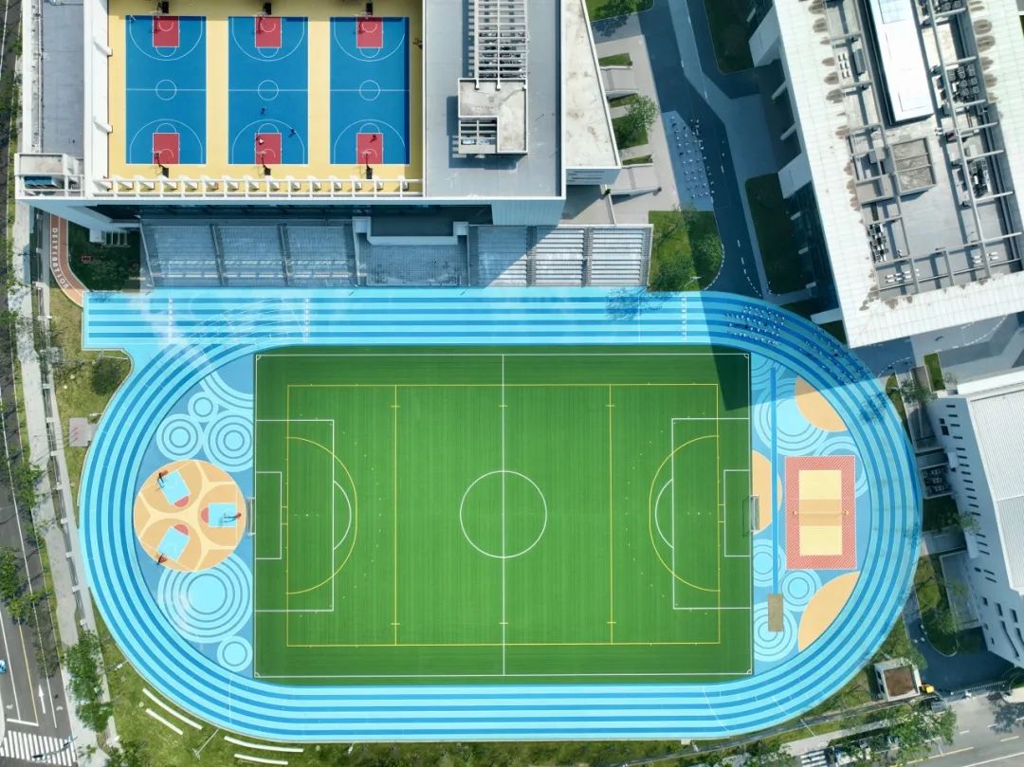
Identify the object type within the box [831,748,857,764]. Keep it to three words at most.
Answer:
vehicle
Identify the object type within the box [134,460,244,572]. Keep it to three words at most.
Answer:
basketball court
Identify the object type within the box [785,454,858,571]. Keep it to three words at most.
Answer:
sports court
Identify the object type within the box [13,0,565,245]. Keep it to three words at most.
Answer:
building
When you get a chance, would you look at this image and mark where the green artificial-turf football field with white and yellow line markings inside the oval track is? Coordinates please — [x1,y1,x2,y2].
[253,344,754,687]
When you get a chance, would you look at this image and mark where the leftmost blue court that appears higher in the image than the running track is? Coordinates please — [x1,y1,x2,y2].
[124,16,207,165]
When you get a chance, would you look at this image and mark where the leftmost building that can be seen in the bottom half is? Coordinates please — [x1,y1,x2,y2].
[866,655,920,702]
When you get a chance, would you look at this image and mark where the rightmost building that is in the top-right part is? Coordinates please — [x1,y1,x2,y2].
[749,0,1024,347]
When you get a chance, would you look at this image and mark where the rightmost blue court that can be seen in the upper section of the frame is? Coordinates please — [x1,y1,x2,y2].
[329,16,410,165]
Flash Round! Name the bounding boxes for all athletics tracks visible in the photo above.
[76,287,927,744]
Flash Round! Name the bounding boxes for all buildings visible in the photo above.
[866,655,920,702]
[935,369,1024,671]
[749,0,1024,347]
[13,0,565,245]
